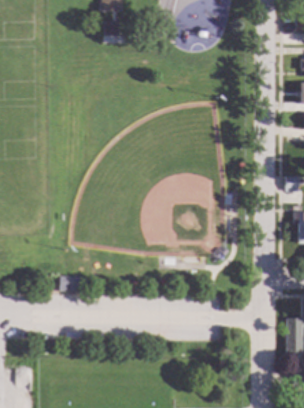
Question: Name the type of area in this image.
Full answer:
What you see here is a sports ground.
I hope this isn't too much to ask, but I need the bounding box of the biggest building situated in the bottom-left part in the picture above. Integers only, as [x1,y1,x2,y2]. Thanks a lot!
[16,366,32,386]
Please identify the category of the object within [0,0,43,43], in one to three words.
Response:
soccer field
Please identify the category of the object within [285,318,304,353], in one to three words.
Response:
house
